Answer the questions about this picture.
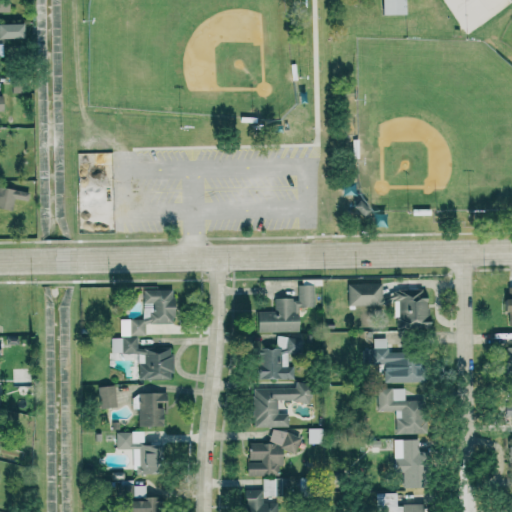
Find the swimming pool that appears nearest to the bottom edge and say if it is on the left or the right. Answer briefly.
left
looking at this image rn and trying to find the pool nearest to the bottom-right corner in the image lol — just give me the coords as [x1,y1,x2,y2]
[282,402,315,420]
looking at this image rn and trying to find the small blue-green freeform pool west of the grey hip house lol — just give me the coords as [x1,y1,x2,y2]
[126,296,144,318]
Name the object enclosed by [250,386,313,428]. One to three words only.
house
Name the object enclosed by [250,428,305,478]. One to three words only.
house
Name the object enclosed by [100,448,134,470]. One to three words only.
swimming pool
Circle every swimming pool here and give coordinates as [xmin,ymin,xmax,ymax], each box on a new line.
[110,354,140,380]
[282,402,315,420]
[110,406,135,431]
[126,296,144,318]
[100,448,134,470]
